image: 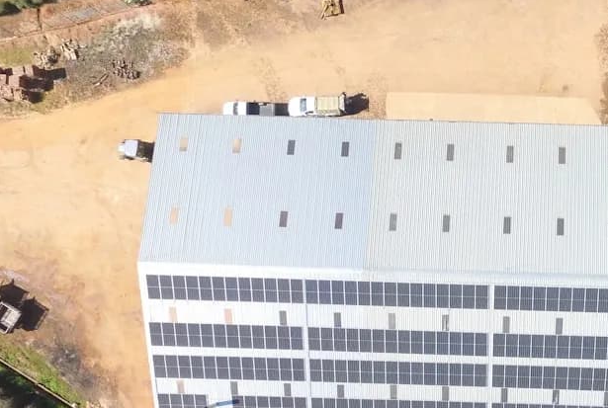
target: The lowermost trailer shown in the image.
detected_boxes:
[0,301,37,334]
